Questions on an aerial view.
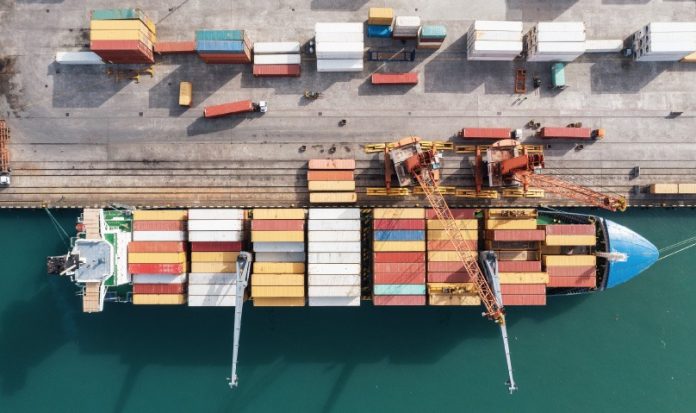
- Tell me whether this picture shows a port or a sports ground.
port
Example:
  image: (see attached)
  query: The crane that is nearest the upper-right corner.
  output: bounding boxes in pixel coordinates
[454,139,627,215]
